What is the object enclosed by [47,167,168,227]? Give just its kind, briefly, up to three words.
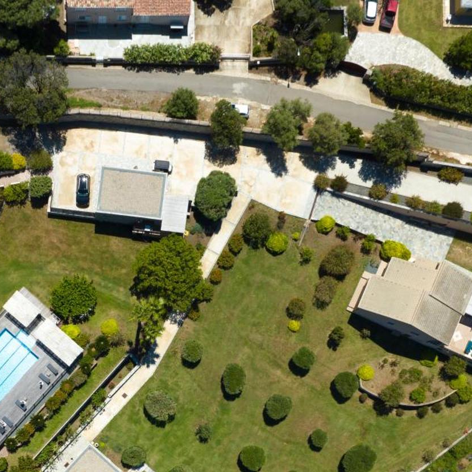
building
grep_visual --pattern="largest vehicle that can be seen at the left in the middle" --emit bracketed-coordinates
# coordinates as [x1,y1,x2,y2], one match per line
[74,174,91,209]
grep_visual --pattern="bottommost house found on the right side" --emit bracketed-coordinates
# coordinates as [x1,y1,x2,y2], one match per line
[337,257,472,349]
